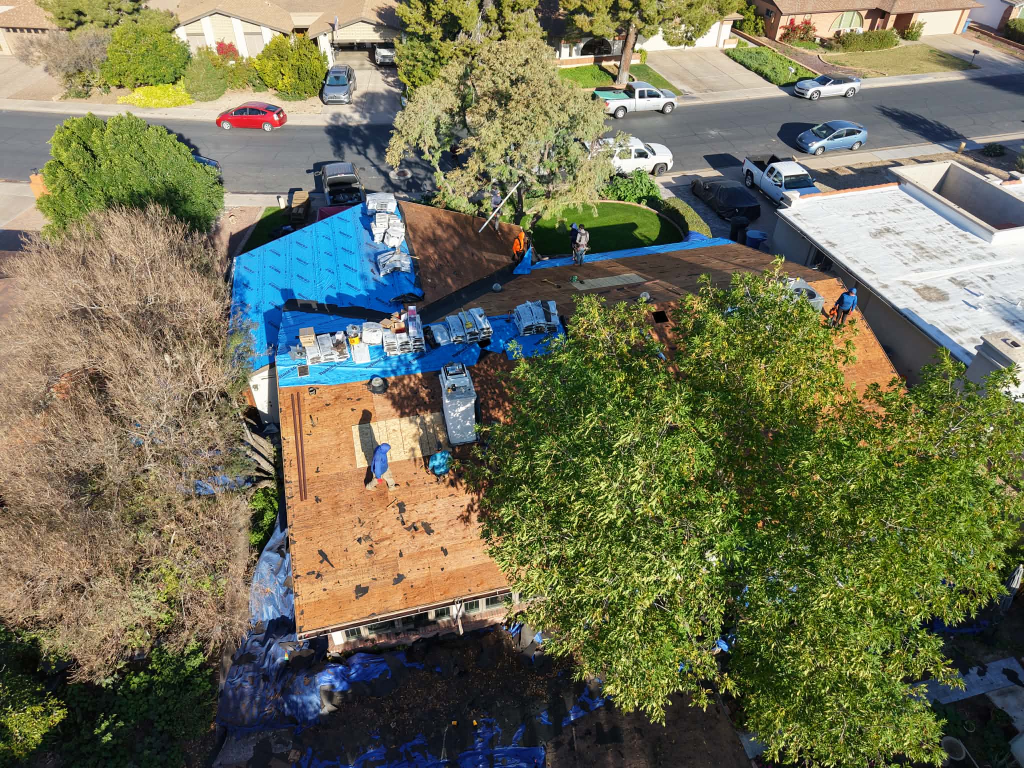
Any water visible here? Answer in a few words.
No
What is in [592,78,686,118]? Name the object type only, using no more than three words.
truck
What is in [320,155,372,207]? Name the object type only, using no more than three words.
truck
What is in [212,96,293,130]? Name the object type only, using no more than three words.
car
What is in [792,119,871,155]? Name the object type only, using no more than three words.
car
